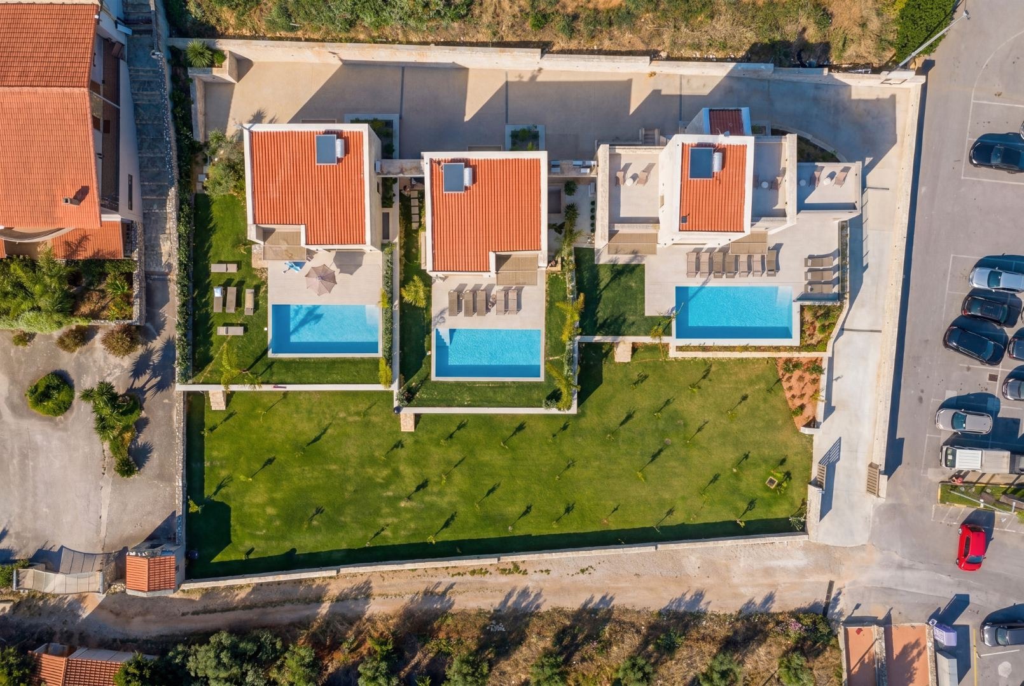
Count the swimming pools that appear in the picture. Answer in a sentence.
The picture shows 3 swimming pools.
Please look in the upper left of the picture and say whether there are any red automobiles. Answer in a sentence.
No, the scene shows no red automobile in the upper left of the picture.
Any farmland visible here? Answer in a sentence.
No, no farmland is visible.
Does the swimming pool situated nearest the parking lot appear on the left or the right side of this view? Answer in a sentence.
It is on the right.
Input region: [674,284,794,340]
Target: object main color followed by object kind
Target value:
blue swimming pool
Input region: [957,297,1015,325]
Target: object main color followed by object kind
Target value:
black car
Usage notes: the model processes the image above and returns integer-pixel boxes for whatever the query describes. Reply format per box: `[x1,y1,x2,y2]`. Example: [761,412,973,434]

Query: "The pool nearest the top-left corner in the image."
[270,303,381,355]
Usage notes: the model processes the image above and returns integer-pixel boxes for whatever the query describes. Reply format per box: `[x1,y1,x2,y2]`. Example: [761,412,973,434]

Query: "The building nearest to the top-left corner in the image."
[0,0,146,258]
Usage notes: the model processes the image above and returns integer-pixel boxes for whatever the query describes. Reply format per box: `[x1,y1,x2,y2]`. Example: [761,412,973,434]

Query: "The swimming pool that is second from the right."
[434,327,543,380]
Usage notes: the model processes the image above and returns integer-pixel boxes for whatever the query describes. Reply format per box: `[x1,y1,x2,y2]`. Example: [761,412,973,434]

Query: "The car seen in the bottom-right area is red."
[956,524,986,569]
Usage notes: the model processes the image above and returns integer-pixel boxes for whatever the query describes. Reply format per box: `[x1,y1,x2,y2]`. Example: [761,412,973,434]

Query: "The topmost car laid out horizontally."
[965,142,1024,173]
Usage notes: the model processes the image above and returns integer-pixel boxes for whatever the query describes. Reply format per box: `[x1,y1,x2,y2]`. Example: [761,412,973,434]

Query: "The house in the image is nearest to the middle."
[422,151,547,279]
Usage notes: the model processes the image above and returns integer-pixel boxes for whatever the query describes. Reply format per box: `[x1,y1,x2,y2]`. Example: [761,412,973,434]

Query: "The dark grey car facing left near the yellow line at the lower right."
[976,619,1024,650]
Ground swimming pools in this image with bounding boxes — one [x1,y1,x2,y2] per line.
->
[674,284,794,340]
[434,327,543,380]
[270,303,381,355]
